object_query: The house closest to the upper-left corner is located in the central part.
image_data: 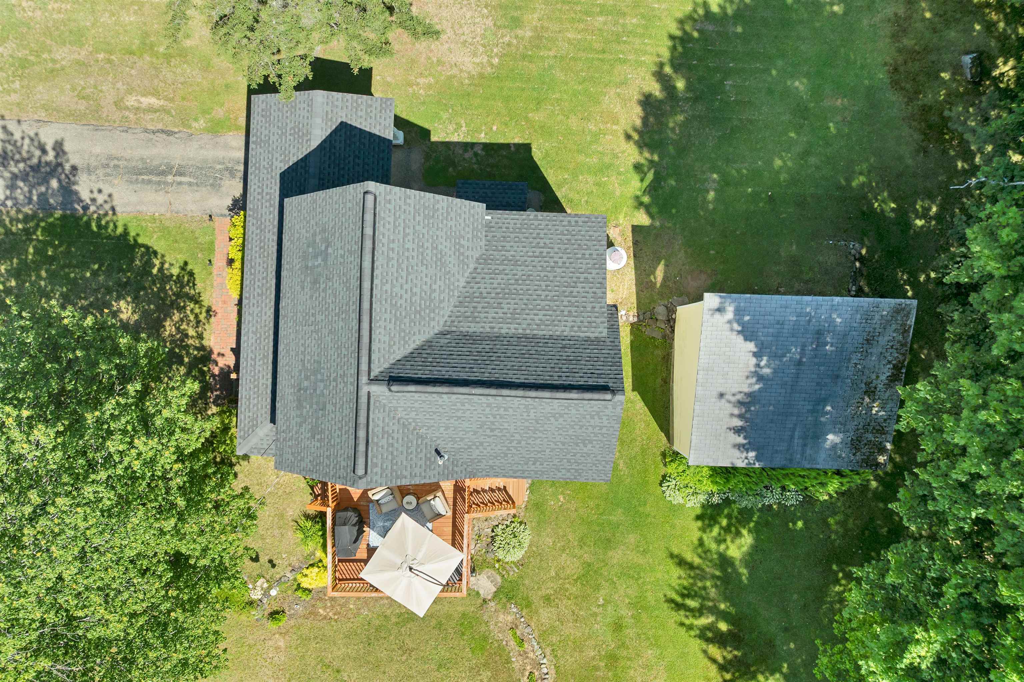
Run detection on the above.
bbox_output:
[238,88,626,490]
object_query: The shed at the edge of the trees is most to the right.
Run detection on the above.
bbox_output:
[670,293,916,472]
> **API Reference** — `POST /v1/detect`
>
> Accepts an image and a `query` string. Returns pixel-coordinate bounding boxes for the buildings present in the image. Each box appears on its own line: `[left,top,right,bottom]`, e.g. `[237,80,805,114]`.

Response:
[670,293,916,472]
[238,88,626,490]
